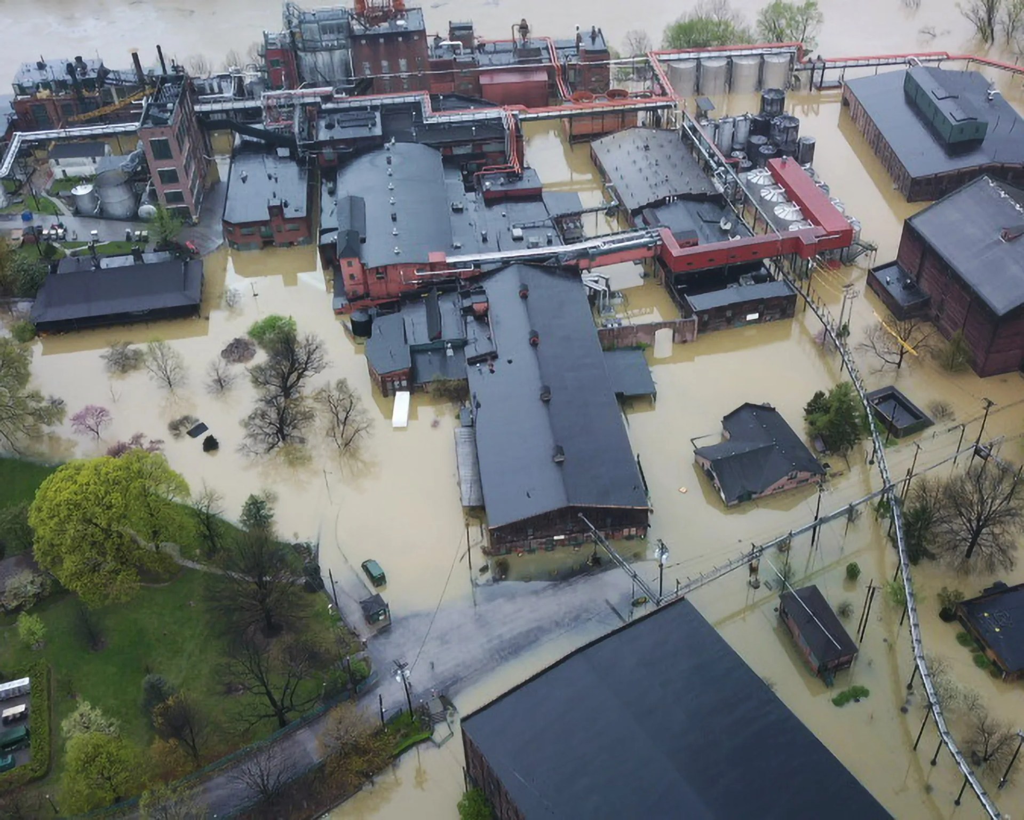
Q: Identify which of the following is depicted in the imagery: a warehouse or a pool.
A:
warehouse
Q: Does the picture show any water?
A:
Yes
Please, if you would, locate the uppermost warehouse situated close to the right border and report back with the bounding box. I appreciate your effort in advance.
[841,62,1024,202]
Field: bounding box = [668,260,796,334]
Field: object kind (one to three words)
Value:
building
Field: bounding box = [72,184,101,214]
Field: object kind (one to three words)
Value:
storage tank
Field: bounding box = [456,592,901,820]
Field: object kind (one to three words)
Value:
warehouse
